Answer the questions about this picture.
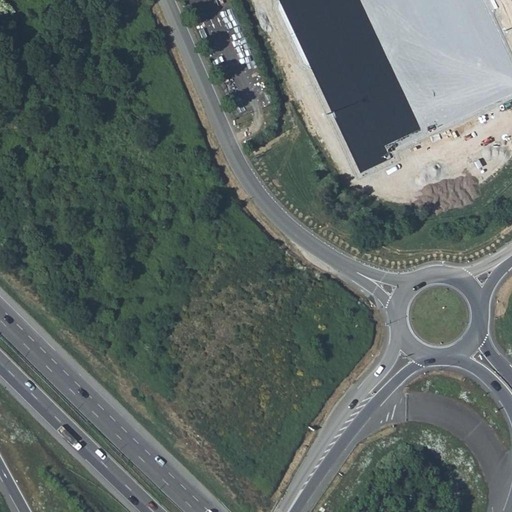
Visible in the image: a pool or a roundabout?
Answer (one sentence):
Of the two, only a roundabout appears.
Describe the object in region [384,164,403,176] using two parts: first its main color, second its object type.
white vehicle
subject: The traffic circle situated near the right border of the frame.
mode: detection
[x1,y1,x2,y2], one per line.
[385,266,490,367]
